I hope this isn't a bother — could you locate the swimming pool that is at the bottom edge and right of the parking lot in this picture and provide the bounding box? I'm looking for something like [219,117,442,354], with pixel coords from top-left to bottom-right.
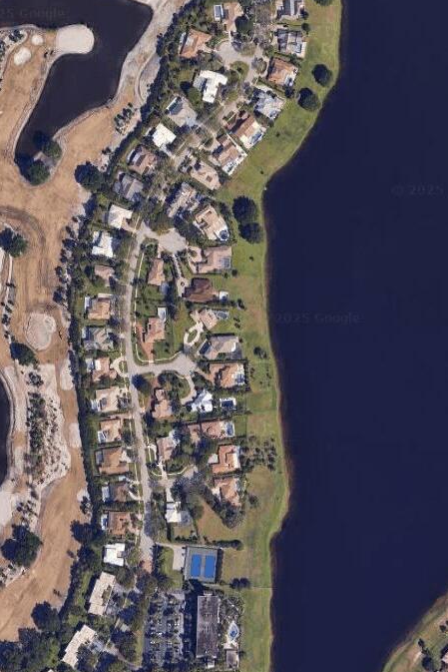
[224,618,240,646]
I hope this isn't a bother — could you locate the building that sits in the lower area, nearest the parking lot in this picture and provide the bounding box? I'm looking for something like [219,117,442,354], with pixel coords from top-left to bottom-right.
[196,591,219,667]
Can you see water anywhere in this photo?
Yes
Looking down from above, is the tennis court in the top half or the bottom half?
bottom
